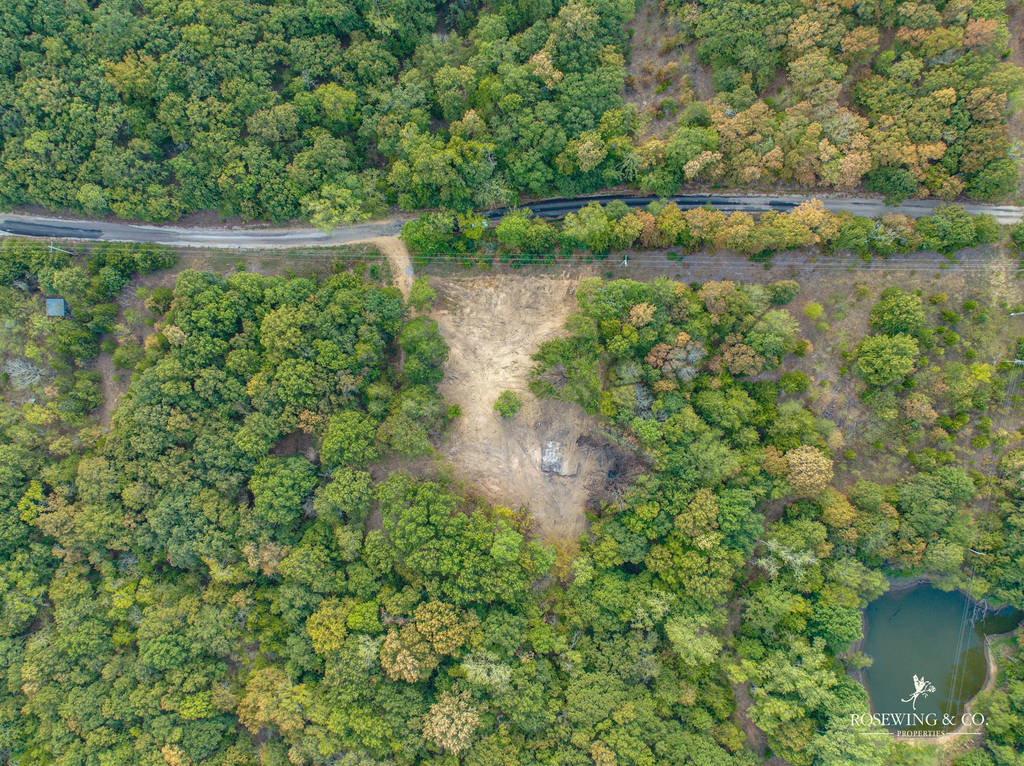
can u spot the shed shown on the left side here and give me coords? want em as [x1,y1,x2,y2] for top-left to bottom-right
[47,298,72,317]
